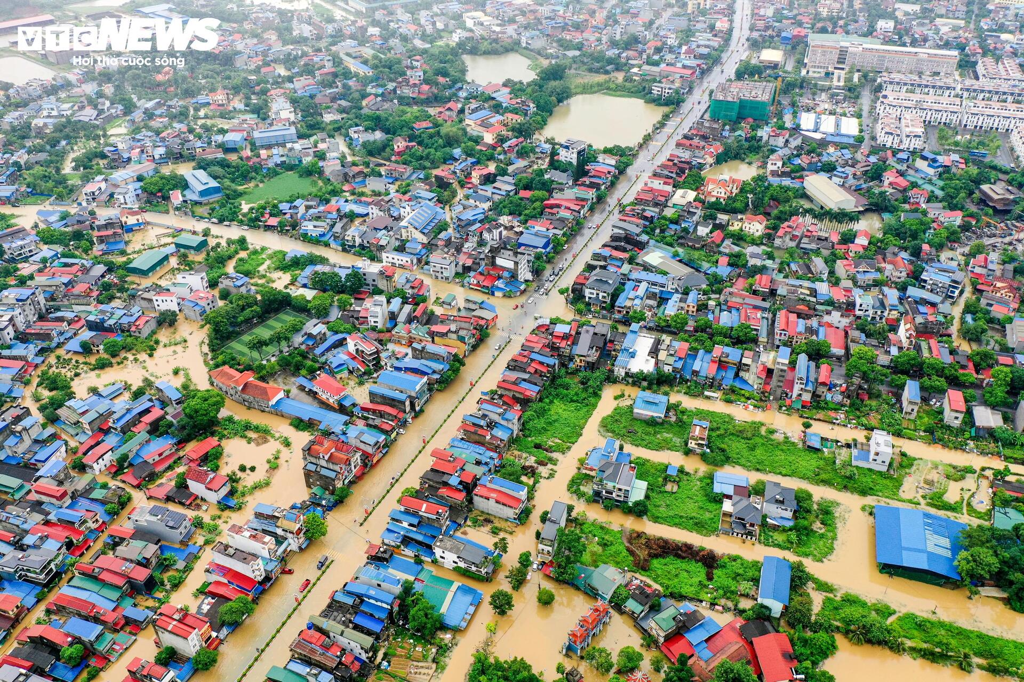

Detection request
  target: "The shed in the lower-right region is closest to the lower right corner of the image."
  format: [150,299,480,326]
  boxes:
[974,584,1007,604]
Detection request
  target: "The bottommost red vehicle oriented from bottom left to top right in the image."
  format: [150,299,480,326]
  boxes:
[296,577,313,594]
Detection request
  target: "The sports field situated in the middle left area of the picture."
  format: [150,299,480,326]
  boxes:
[224,309,305,363]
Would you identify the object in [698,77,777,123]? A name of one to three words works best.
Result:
building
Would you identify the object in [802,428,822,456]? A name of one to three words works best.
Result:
shed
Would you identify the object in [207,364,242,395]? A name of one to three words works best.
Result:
house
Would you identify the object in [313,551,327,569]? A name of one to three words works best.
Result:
vehicle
